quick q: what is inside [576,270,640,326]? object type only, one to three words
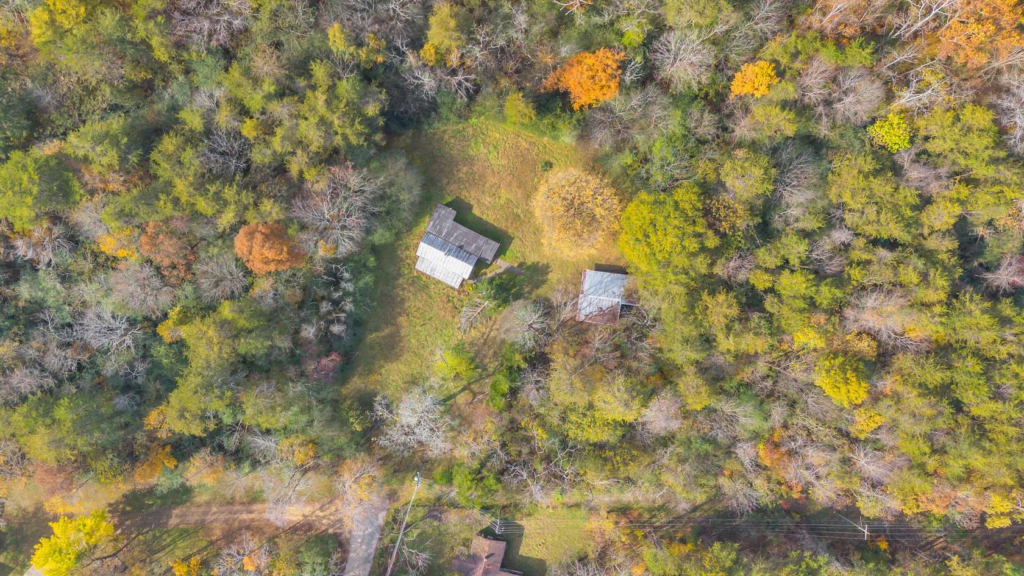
shed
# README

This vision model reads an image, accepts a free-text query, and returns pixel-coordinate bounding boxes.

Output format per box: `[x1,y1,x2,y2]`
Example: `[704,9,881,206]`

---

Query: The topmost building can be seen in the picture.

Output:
[416,204,504,291]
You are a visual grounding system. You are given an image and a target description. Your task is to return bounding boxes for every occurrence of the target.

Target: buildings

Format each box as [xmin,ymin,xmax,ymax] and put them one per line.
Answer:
[416,204,504,291]
[576,270,640,326]
[452,532,523,576]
